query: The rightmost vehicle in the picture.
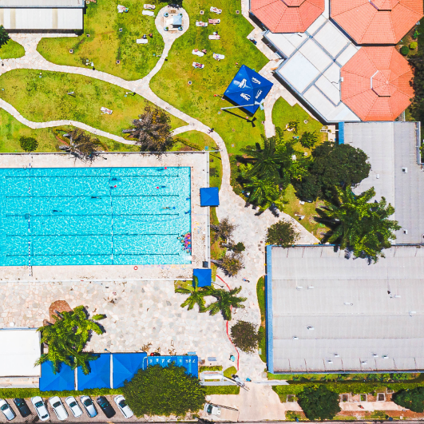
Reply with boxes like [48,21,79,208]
[207,406,246,424]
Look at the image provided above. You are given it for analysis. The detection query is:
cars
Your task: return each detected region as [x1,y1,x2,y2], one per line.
[47,395,69,423]
[30,395,49,424]
[64,395,83,421]
[114,396,134,420]
[94,395,117,422]
[11,398,31,421]
[79,394,98,420]
[0,398,17,424]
